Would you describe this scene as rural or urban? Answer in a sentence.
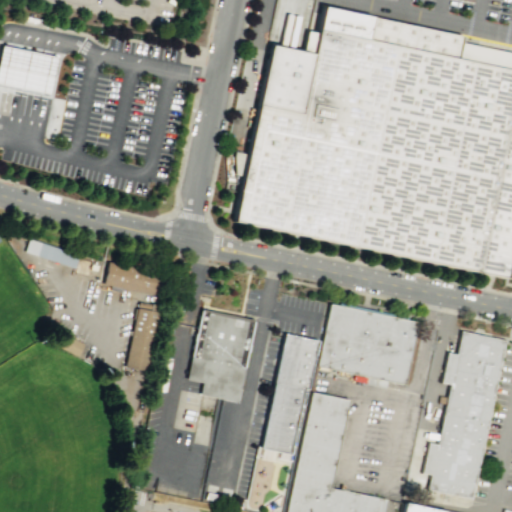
It looks urban.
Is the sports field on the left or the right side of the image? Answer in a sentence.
The sports field sits on the left side.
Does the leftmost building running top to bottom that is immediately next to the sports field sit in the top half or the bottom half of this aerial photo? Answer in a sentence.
The leftmost building running top to bottom that is immediately next to the sports field sits in the bottom half of the picture.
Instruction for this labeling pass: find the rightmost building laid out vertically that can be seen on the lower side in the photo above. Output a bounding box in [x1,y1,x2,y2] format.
[424,330,506,497]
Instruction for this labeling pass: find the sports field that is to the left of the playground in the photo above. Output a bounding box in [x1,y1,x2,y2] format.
[0,240,126,512]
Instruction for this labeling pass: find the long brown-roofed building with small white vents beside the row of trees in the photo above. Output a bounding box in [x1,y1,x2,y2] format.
[126,304,158,372]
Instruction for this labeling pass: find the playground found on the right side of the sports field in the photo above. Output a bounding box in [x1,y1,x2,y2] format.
[243,460,287,510]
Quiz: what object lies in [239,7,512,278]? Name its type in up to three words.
warehouse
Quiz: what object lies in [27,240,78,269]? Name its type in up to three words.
shed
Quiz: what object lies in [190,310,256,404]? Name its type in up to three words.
building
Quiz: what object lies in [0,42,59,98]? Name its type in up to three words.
building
